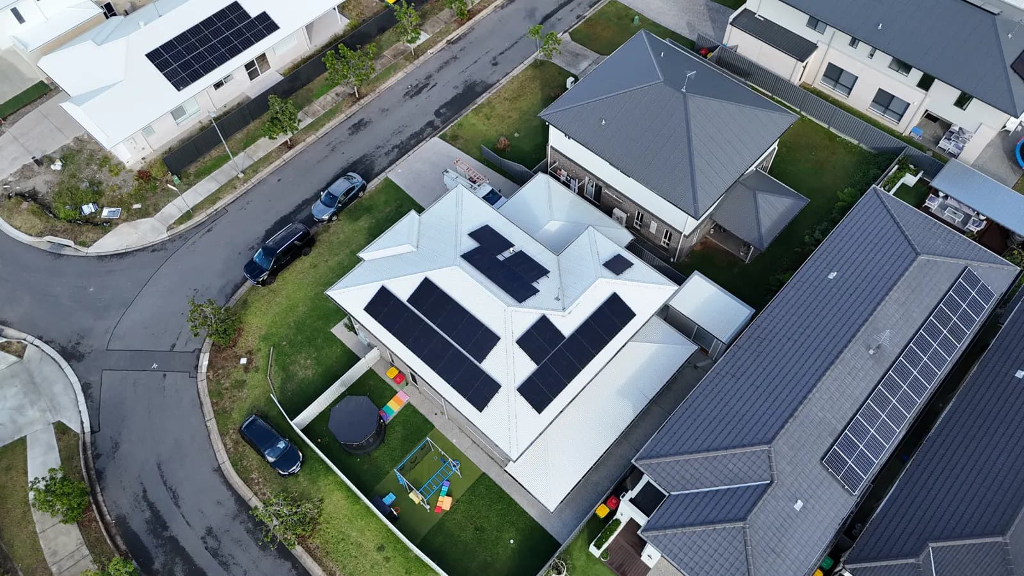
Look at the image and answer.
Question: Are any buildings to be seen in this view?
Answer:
Yes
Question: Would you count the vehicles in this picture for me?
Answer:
4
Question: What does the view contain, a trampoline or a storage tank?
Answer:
trampoline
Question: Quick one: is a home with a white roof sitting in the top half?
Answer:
Yes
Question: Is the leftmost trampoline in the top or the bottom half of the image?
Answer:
bottom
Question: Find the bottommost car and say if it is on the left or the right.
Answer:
left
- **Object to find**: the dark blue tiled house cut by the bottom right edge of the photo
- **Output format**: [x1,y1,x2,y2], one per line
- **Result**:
[838,291,1024,576]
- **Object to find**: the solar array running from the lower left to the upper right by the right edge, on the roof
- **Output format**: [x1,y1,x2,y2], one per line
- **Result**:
[824,267,995,497]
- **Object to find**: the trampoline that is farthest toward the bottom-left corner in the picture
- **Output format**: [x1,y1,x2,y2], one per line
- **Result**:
[334,397,389,457]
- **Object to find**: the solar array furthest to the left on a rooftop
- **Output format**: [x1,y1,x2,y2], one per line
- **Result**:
[144,2,278,91]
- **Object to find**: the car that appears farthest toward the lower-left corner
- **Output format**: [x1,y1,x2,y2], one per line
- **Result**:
[232,408,304,477]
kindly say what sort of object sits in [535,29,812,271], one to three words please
house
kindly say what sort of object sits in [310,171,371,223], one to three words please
car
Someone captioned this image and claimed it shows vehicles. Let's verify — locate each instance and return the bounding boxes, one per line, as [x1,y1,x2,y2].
[441,156,506,209]
[245,219,318,285]
[232,408,304,477]
[310,171,371,223]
